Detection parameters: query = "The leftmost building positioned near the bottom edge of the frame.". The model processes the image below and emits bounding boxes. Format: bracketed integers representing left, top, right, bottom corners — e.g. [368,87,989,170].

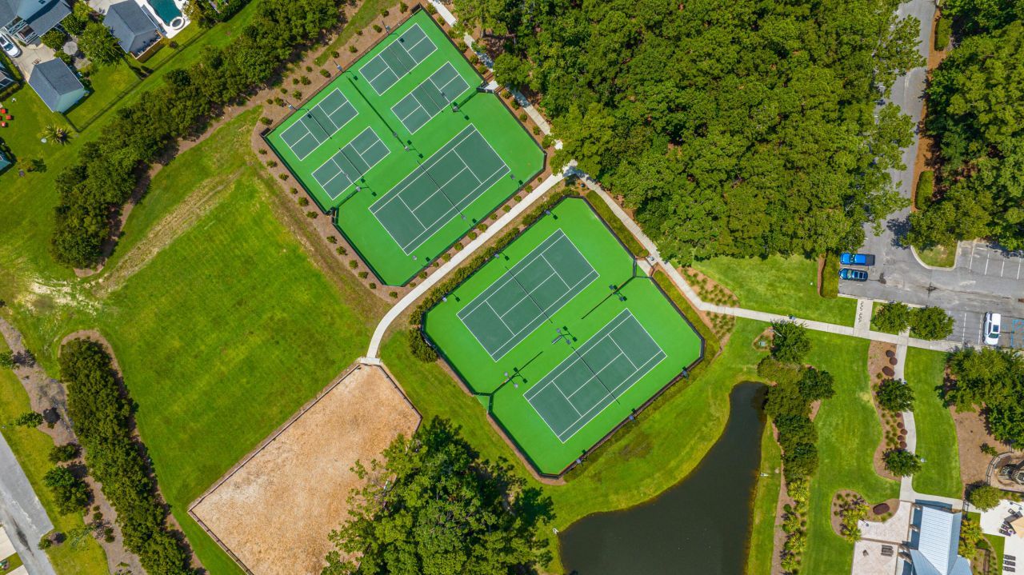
[895,503,970,575]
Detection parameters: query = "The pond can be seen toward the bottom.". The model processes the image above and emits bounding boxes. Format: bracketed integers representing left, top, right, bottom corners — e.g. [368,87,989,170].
[558,381,768,575]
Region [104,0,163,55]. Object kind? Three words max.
building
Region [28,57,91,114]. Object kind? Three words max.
building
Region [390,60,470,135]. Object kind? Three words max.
sports court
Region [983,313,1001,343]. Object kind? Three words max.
car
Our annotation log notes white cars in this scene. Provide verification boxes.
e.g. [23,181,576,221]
[0,29,19,57]
[983,313,1001,343]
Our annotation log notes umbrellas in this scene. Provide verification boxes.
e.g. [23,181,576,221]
[1011,517,1024,540]
[65,42,80,56]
